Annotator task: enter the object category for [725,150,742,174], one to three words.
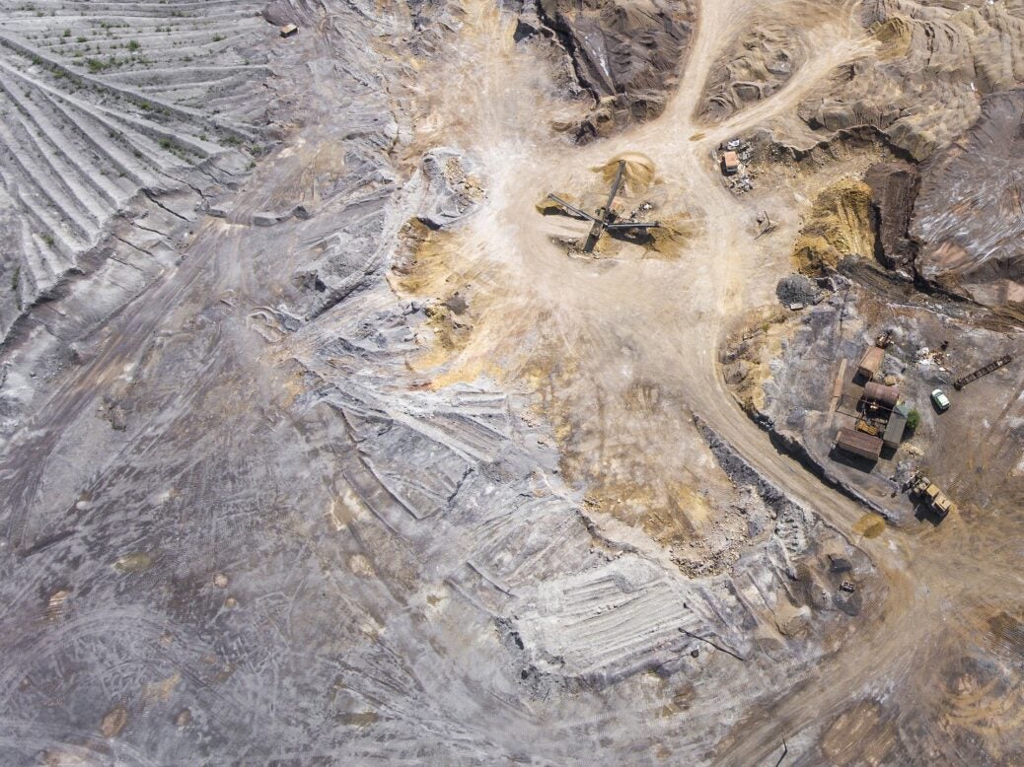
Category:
building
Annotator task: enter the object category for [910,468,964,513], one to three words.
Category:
work vehicle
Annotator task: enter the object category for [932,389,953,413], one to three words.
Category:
car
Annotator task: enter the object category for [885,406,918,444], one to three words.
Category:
shed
